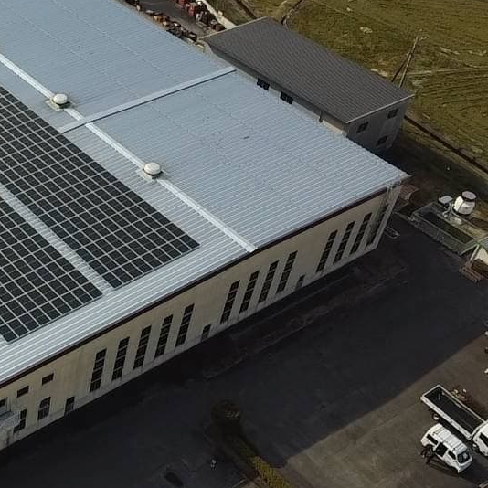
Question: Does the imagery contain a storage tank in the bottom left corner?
No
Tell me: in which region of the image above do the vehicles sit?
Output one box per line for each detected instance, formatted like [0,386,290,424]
[417,384,488,461]
[417,421,475,474]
